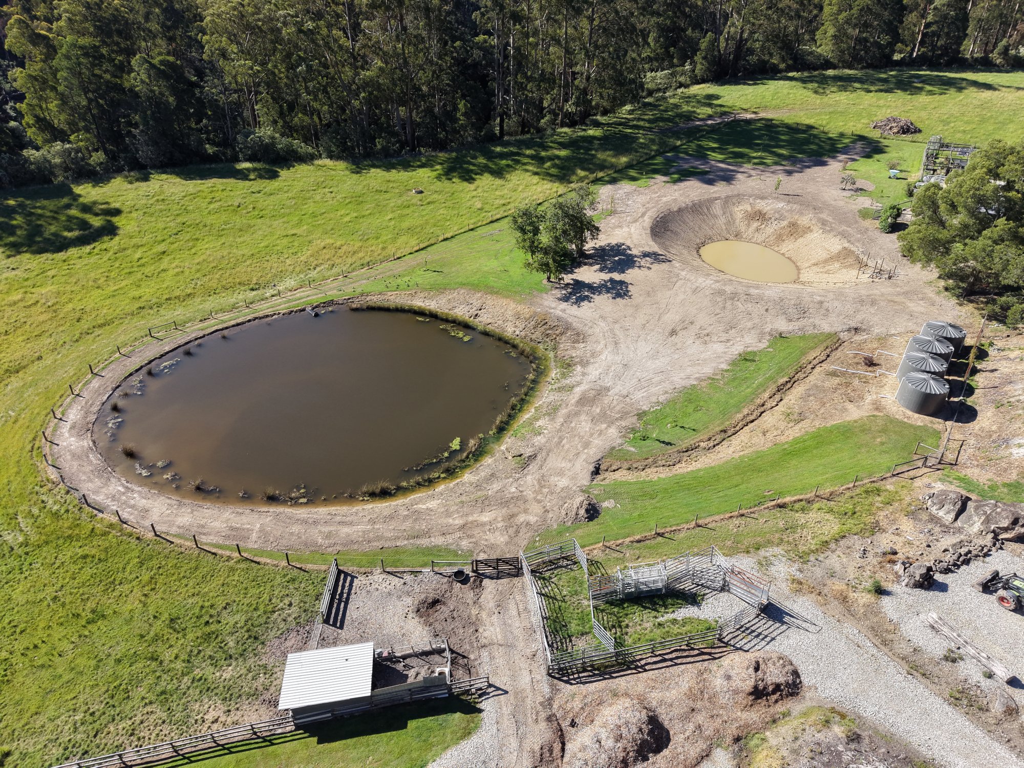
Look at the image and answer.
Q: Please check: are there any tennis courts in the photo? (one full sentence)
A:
No, the scene contains no tennis court.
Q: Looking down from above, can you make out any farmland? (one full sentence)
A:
Yes, there's farmland in this view.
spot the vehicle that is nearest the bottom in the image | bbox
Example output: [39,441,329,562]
[968,568,1024,615]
